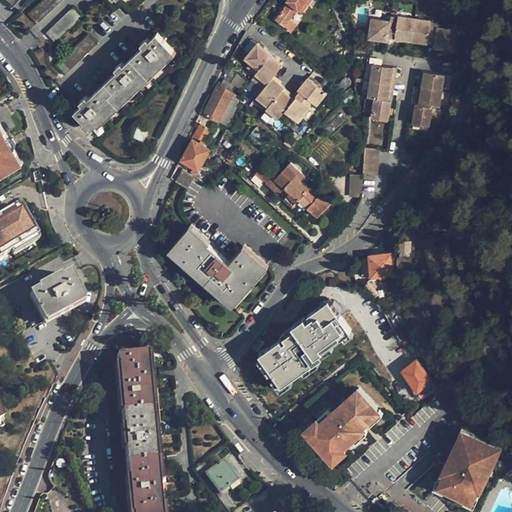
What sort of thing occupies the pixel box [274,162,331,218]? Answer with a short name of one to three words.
house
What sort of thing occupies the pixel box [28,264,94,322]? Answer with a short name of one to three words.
building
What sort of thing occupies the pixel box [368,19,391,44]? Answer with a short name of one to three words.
house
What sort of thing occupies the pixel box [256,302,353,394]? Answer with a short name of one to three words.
building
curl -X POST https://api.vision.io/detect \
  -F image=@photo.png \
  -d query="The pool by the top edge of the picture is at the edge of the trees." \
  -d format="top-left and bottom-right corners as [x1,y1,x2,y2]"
[353,3,372,27]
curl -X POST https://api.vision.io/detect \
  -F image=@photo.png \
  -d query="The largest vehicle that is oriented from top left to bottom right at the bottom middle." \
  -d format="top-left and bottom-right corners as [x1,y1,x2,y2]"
[220,374,237,394]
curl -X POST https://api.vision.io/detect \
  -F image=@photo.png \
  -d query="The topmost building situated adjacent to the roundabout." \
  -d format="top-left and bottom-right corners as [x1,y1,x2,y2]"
[72,32,182,137]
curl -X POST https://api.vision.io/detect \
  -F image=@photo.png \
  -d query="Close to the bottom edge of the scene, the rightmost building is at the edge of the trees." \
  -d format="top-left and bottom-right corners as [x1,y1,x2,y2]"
[433,426,502,512]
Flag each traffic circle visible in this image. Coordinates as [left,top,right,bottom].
[64,172,148,254]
